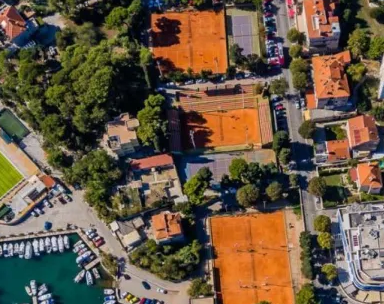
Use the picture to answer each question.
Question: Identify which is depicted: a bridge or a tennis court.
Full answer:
Of the two, only a tennis court appears.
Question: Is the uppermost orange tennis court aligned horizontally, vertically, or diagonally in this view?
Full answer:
I'd say the uppermost orange tennis court is aligned horizontally in the picture.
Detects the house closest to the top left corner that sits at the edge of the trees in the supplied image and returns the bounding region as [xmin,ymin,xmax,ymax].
[0,5,31,49]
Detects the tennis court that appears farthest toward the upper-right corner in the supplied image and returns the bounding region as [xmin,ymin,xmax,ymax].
[226,7,265,68]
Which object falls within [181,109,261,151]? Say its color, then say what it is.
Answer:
orange tennis court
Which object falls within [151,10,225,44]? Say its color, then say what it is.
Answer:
orange tennis court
